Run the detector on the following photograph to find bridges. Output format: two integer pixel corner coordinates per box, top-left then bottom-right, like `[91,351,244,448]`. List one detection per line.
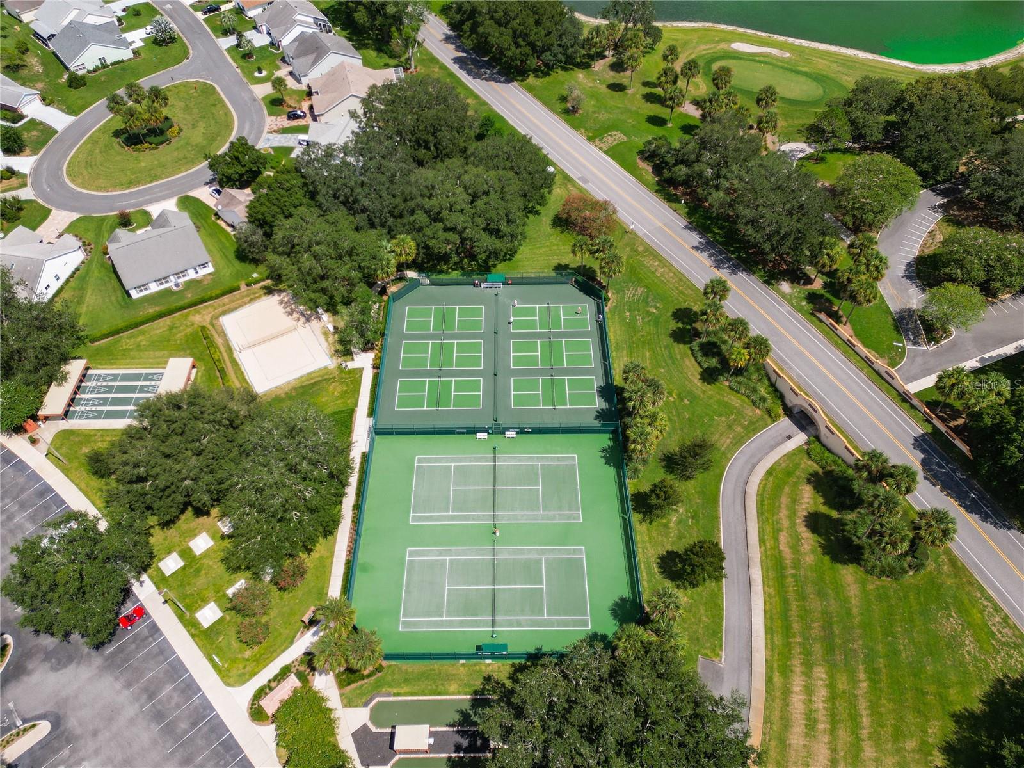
[759,354,868,473]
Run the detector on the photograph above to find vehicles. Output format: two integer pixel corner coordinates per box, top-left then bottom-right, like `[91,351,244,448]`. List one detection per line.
[298,134,309,145]
[206,184,223,197]
[114,604,148,630]
[200,4,221,14]
[141,22,157,34]
[285,109,306,119]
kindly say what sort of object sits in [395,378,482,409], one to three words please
sports court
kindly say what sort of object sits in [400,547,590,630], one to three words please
tennis court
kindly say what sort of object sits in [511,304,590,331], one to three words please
sports court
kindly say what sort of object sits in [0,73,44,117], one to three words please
house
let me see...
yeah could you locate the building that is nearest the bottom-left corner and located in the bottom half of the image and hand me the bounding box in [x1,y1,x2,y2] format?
[259,674,303,720]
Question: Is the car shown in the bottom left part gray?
No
